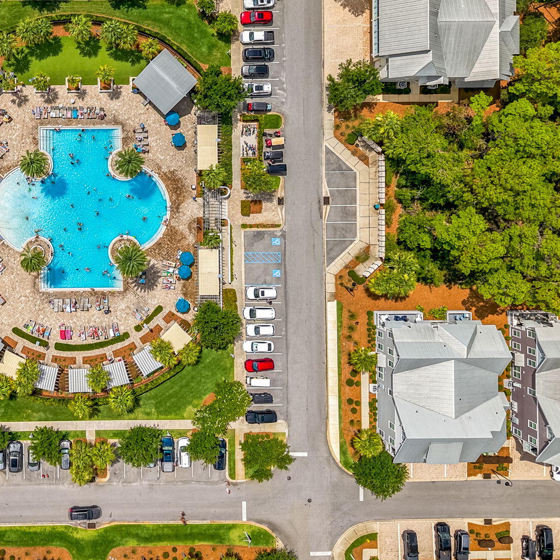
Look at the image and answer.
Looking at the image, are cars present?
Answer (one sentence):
Yes, a car appears in the view.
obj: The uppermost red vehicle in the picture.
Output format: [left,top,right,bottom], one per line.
[239,10,272,26]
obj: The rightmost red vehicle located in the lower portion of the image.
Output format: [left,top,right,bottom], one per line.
[243,358,273,373]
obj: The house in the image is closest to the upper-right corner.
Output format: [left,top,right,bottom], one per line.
[366,0,519,87]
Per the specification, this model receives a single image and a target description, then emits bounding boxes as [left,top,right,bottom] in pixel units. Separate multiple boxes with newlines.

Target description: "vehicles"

[550,462,560,482]
[263,165,287,173]
[242,0,273,9]
[264,137,287,147]
[8,440,23,472]
[245,375,269,385]
[26,449,39,472]
[177,435,191,468]
[68,504,101,522]
[214,438,230,471]
[244,408,277,424]
[239,29,274,44]
[240,64,268,78]
[536,524,555,560]
[401,529,419,560]
[243,82,272,97]
[239,10,272,26]
[434,521,453,560]
[261,151,284,160]
[452,529,472,560]
[241,339,274,354]
[245,323,274,337]
[246,103,269,113]
[250,391,272,402]
[242,46,274,62]
[243,358,273,373]
[161,435,176,473]
[244,285,276,301]
[241,306,275,322]
[518,533,536,559]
